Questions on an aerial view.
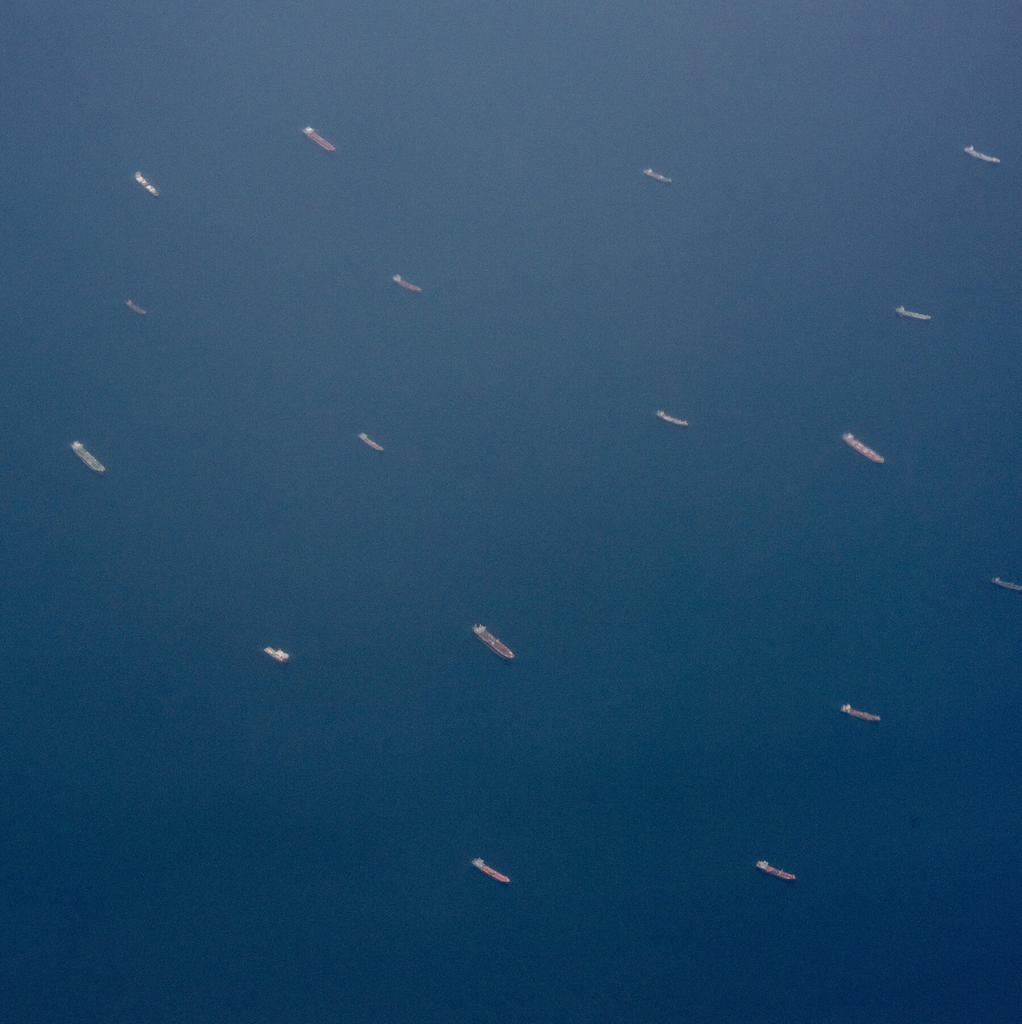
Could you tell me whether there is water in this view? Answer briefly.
Yes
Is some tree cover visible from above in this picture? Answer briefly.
No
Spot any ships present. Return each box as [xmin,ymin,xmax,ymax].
[841,434,885,464]
[302,127,336,152]
[70,442,106,472]
[392,275,421,292]
[895,307,931,320]
[357,433,383,451]
[264,649,289,660]
[964,147,1000,164]
[656,412,688,426]
[124,300,146,314]
[134,173,159,197]
[840,705,880,722]
[756,861,795,880]
[991,577,1022,591]
[472,626,515,658]
[642,169,672,183]
[470,858,510,882]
